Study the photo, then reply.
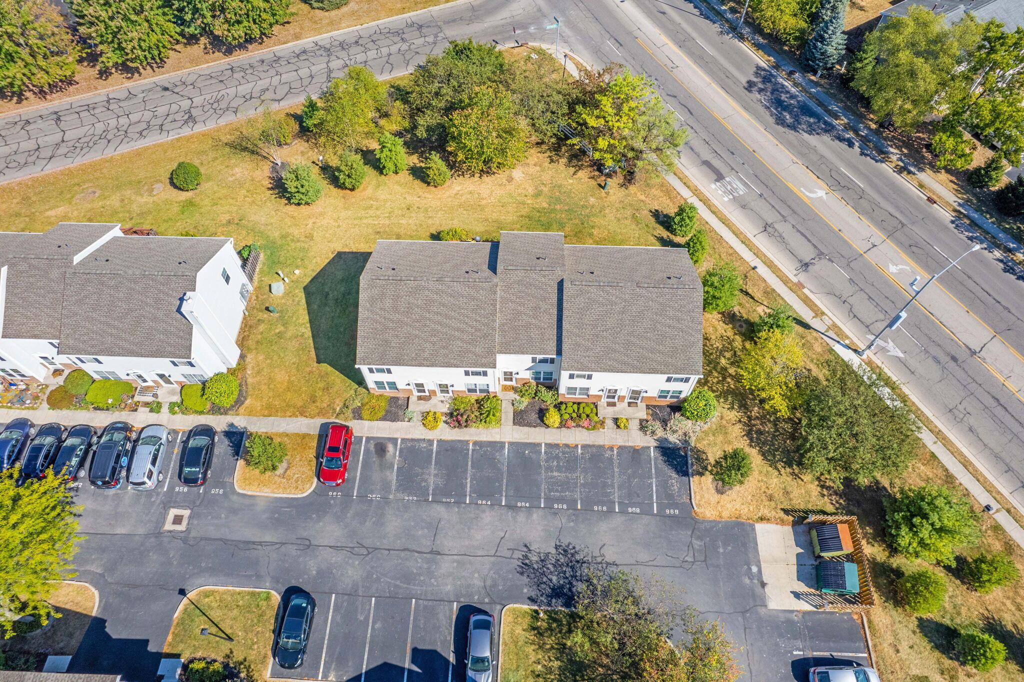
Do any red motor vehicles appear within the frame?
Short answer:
Yes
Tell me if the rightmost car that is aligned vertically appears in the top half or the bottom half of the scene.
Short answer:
bottom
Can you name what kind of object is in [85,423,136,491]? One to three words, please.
car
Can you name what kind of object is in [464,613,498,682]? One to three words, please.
car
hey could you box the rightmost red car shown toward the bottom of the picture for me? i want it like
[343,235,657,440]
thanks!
[315,424,352,488]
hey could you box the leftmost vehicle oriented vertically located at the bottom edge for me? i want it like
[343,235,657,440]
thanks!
[274,594,316,674]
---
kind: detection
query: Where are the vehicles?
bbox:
[807,666,883,682]
[85,423,136,491]
[18,422,67,486]
[0,418,39,479]
[125,427,172,491]
[464,613,498,682]
[315,424,352,488]
[178,426,220,491]
[53,422,98,482]
[274,594,316,674]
